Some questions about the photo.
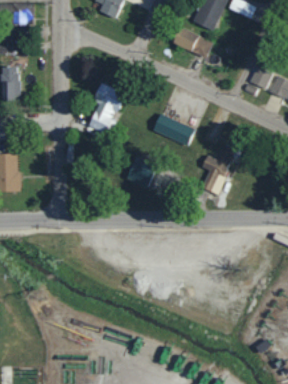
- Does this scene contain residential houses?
Yes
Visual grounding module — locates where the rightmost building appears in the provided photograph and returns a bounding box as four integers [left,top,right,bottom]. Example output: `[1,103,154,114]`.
[268,76,288,102]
